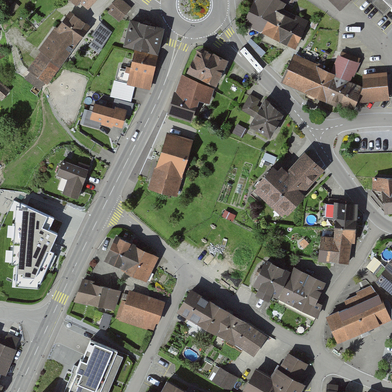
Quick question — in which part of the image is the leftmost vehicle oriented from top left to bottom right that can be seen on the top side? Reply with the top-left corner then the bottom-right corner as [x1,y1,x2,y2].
[240,46,264,72]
